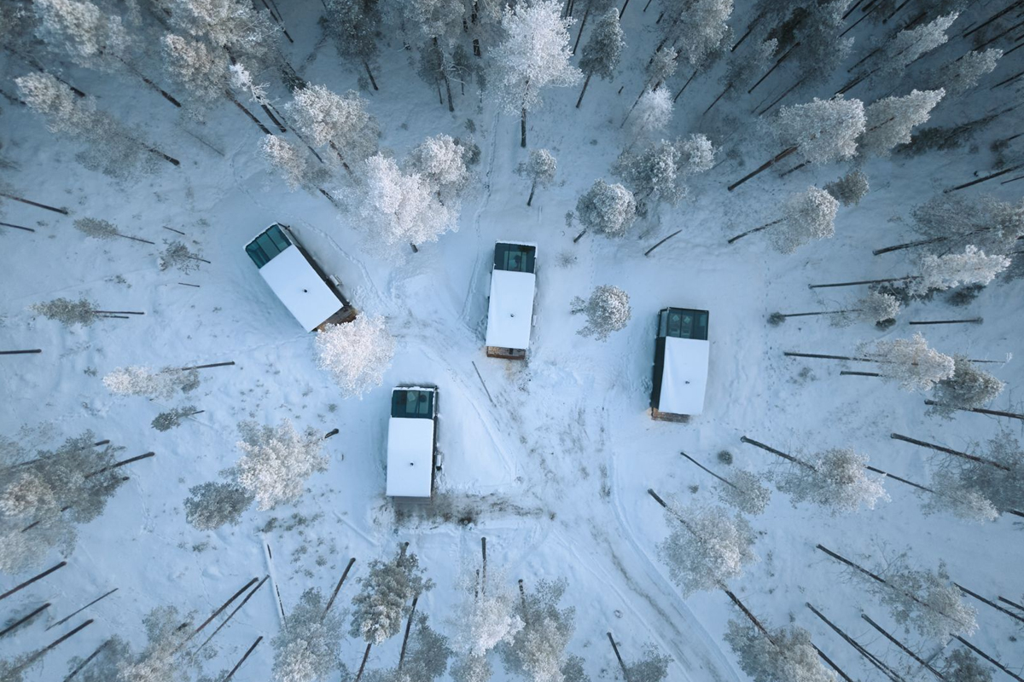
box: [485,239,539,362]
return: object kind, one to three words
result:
building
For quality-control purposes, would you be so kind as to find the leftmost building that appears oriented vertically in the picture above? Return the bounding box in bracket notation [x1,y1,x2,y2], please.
[387,385,439,502]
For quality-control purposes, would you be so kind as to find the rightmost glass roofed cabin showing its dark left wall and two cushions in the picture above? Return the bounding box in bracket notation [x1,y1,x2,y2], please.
[653,305,710,425]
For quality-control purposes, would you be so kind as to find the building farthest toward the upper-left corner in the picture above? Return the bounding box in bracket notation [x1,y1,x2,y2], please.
[246,222,357,340]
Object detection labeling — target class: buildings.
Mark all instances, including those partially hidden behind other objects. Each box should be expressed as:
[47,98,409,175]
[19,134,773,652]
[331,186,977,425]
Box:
[387,385,439,502]
[653,305,710,425]
[246,222,357,340]
[485,239,539,362]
